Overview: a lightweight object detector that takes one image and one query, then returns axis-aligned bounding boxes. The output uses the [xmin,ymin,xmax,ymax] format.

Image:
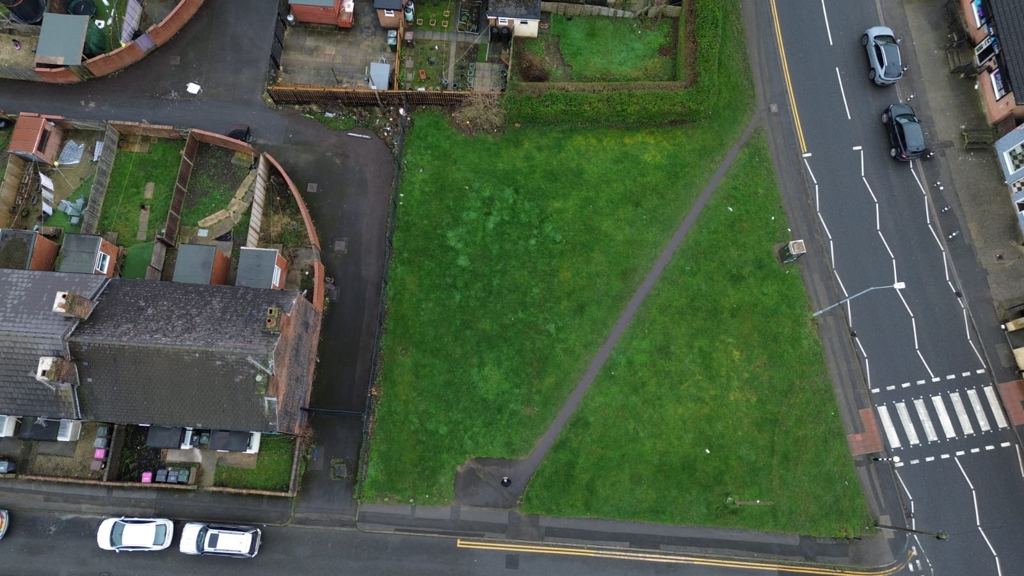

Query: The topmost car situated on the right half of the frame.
[861,28,903,86]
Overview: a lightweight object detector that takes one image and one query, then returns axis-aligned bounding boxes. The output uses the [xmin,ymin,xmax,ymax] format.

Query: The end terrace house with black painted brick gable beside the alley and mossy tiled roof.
[69,244,321,451]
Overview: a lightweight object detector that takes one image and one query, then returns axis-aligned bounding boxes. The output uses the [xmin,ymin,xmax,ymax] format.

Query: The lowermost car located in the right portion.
[879,104,923,162]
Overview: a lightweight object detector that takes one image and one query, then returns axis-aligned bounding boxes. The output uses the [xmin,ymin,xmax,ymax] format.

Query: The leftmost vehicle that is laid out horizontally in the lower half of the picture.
[96,516,176,554]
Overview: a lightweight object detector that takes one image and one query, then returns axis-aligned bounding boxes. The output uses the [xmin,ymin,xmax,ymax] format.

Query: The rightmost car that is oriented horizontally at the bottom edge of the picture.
[177,520,264,561]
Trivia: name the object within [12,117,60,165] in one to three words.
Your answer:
shed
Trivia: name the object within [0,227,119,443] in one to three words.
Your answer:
house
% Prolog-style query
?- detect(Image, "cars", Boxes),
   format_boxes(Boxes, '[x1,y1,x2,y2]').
[861,28,903,86]
[96,516,176,554]
[177,520,264,561]
[879,104,923,162]
[0,509,14,543]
